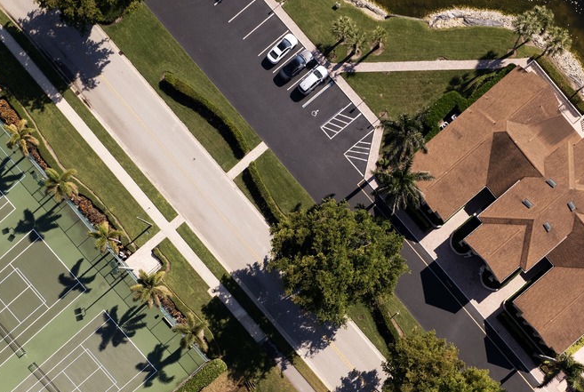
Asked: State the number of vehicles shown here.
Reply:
3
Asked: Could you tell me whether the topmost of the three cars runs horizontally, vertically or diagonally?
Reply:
diagonally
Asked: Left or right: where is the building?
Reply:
right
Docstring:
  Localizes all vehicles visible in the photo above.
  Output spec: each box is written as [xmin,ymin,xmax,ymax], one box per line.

[298,64,330,96]
[265,33,299,64]
[279,50,313,81]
